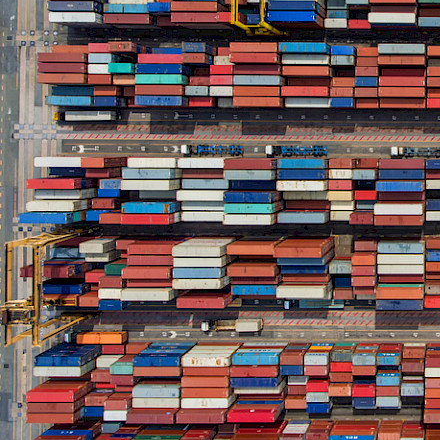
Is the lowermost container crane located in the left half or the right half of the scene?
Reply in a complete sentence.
It is on the left.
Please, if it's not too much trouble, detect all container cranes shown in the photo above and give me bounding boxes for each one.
[232,0,290,38]
[0,224,98,341]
